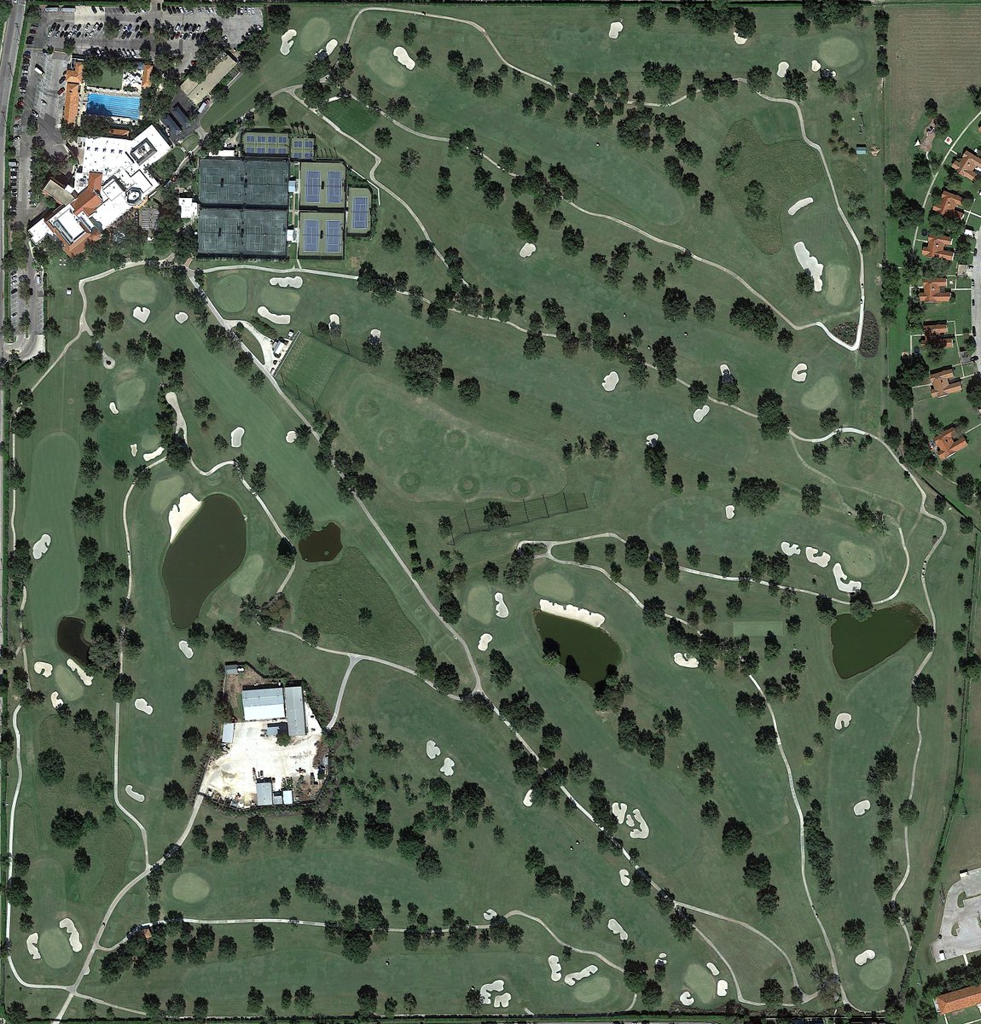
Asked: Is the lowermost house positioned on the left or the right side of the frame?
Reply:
right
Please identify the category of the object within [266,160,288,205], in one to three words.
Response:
tennis court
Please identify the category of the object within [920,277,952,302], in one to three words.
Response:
house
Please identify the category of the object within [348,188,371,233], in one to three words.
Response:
tennis court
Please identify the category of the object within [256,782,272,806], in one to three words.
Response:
shed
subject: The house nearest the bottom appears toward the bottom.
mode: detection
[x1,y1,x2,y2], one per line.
[934,985,981,1015]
